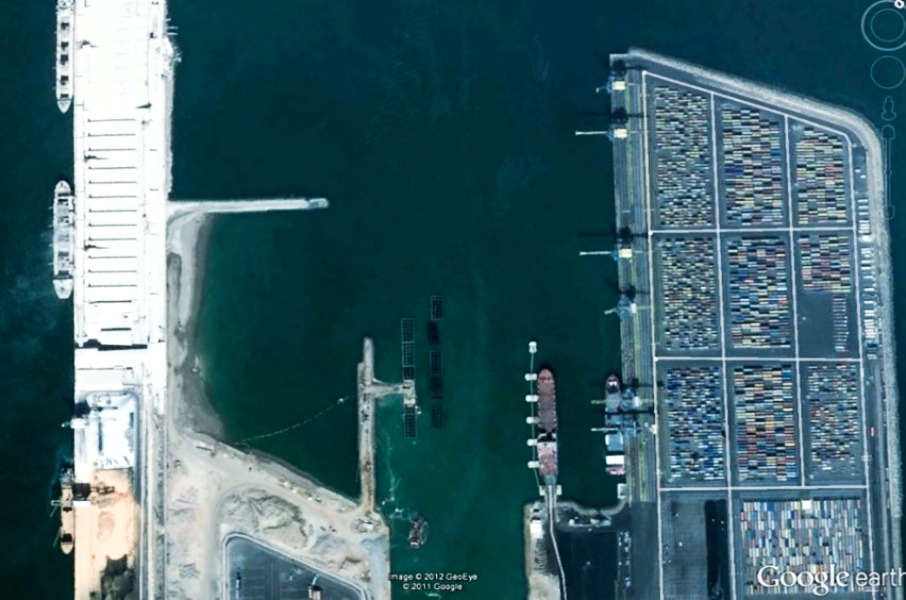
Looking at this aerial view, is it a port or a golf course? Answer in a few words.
port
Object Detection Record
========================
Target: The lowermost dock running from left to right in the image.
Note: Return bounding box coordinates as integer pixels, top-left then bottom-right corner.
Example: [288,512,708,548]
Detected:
[167,197,328,215]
